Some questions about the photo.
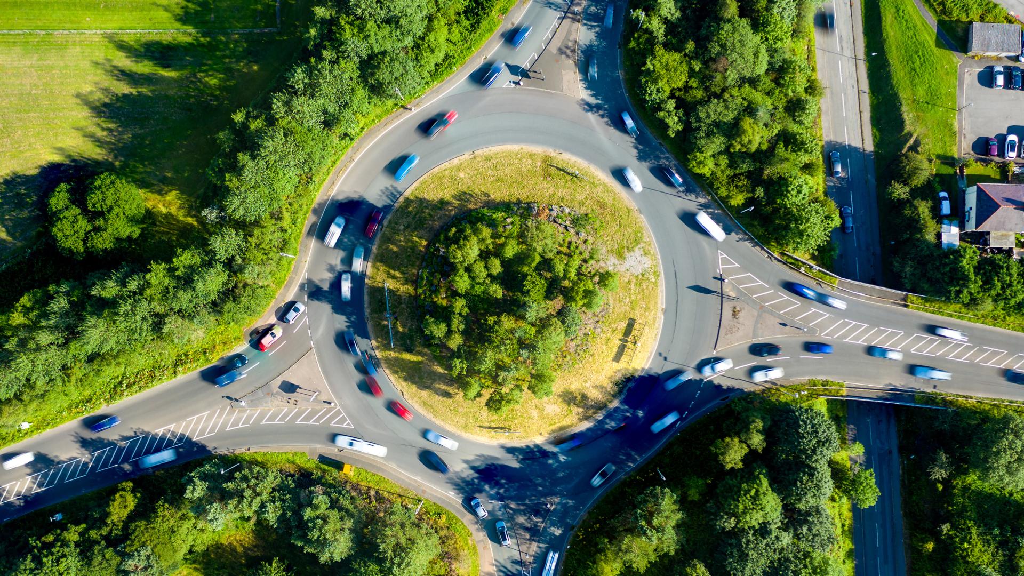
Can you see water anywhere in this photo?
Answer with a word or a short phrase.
No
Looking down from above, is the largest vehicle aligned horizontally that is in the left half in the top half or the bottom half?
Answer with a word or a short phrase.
bottom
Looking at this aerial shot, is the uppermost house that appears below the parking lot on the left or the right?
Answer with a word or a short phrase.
right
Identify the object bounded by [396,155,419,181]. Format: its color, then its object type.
blue car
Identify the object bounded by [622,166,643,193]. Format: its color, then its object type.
white car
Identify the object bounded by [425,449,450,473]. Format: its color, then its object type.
blue car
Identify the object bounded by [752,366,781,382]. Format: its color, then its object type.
white car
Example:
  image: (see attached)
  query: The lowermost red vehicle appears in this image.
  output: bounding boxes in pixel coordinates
[390,399,415,425]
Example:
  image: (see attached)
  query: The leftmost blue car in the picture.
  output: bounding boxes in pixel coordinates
[91,414,120,433]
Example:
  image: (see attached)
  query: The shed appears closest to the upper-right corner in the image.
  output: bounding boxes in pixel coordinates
[965,22,1022,56]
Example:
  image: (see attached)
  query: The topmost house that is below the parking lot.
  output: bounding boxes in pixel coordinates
[967,181,1024,231]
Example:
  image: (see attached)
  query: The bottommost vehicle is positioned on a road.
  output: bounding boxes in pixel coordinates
[539,547,561,576]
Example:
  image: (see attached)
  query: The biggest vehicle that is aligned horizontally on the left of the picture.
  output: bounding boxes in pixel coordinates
[335,432,387,458]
